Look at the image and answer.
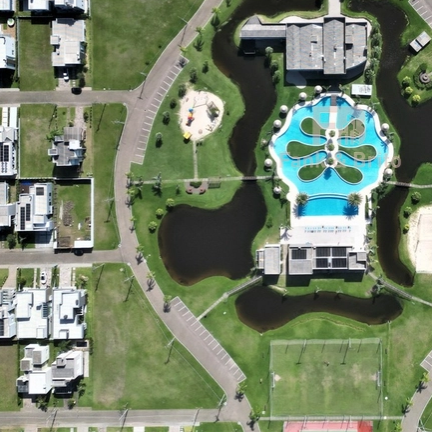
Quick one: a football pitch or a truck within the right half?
football pitch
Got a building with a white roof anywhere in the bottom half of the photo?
Yes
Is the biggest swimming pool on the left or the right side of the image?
right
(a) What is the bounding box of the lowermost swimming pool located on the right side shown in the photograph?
[271,95,390,216]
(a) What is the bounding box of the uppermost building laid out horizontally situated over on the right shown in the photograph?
[241,14,368,75]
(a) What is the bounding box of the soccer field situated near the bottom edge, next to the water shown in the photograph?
[272,340,382,416]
